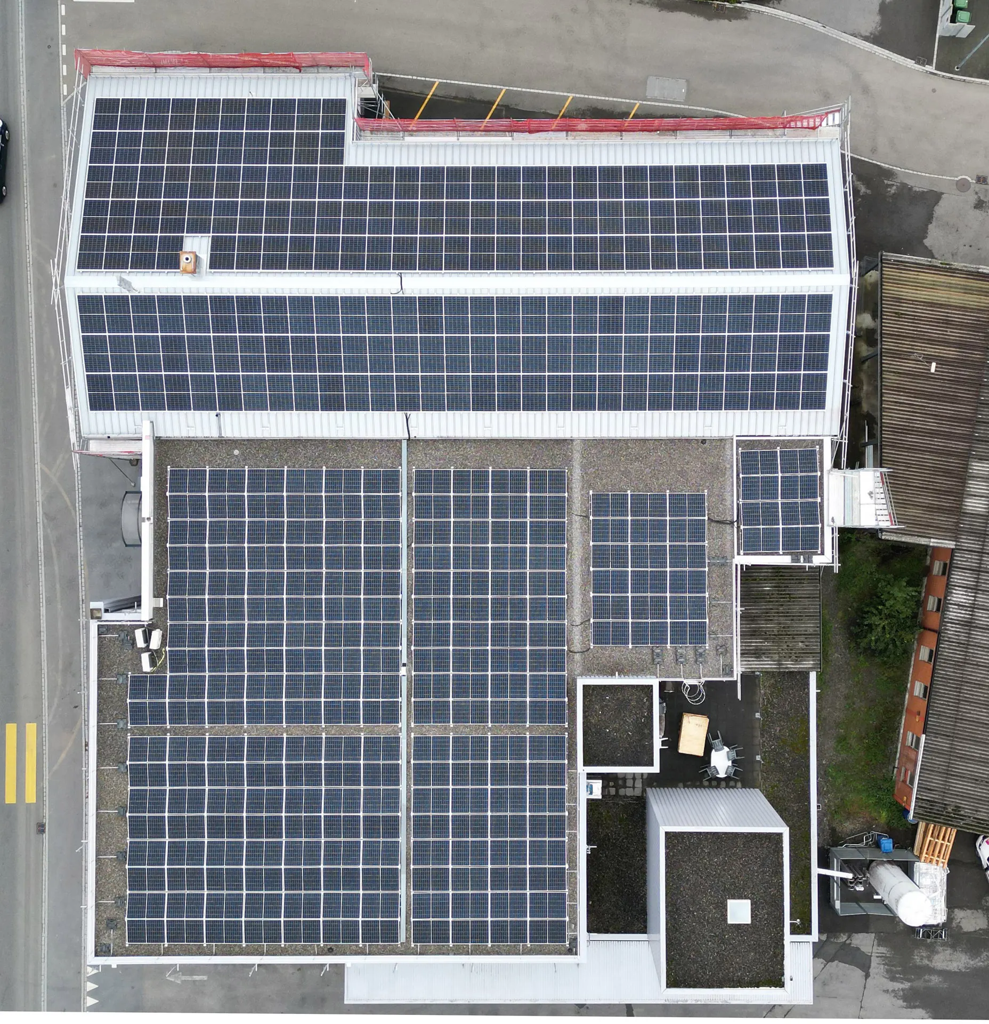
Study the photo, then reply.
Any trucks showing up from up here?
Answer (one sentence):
No, I find no truck anywhere in the image.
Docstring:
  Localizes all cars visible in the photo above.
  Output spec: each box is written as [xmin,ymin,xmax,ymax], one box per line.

[0,117,11,201]
[974,835,989,885]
